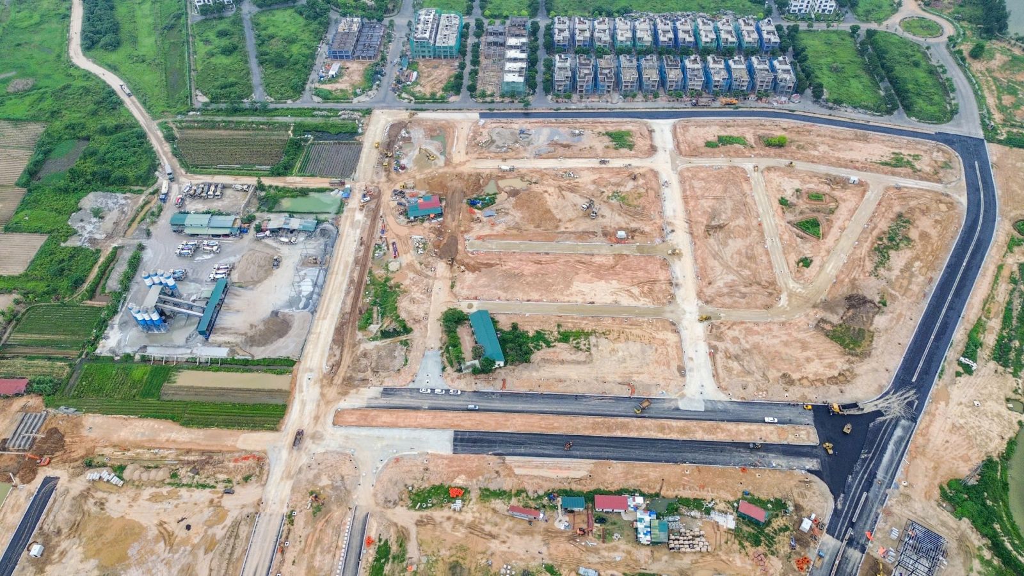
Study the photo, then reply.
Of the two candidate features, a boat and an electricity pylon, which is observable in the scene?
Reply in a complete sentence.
Of the two, only an electricity pylon appears.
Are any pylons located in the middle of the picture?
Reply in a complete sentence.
No, looking in the middle of the picture, there is no pylon.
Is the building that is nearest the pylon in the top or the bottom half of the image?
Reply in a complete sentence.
Seen from above, the building that is nearest the pylon lies in the bottom half of the view.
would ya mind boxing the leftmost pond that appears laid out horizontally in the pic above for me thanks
[168,369,291,388]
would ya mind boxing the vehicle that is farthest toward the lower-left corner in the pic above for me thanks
[29,450,51,466]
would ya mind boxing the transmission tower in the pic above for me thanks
[960,452,997,486]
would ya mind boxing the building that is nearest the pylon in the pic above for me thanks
[886,517,948,576]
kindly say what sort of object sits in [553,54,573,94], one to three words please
house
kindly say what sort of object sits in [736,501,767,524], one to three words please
shed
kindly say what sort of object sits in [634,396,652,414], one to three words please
vehicle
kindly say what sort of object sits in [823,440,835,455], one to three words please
vehicle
